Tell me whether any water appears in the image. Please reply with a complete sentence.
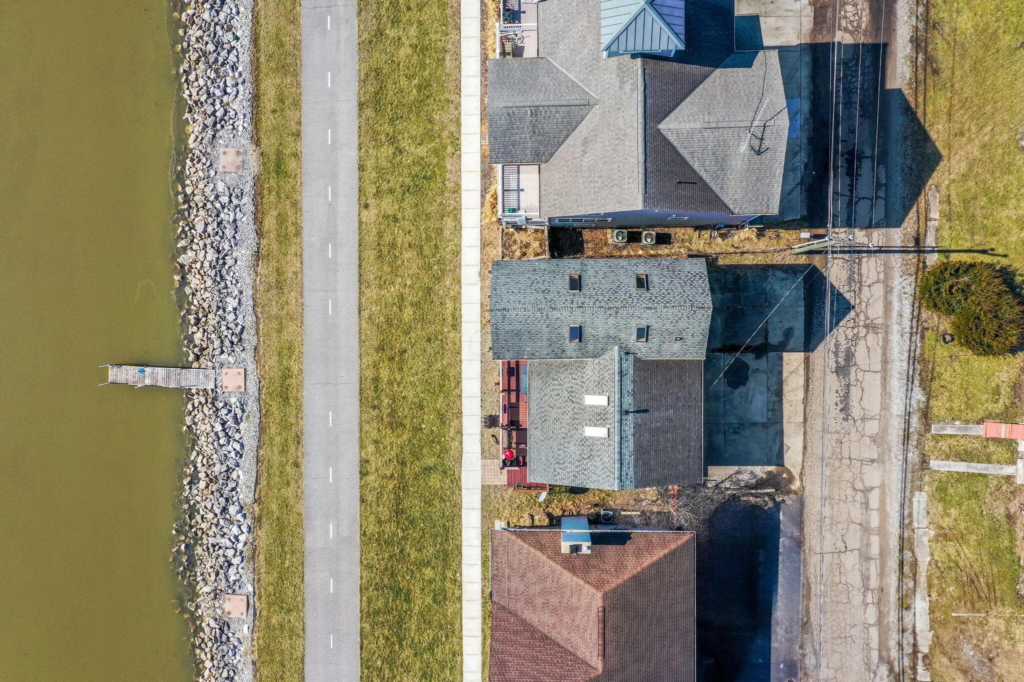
Yes, some water is visible.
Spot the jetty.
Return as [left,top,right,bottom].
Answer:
[102,364,215,393]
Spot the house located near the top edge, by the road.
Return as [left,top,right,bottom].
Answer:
[487,0,789,232]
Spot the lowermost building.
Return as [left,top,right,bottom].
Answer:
[488,516,697,682]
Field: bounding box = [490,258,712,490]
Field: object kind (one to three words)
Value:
house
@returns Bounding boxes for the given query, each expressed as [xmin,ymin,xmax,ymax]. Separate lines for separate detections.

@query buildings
[487,0,789,232]
[488,516,697,682]
[490,258,712,490]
